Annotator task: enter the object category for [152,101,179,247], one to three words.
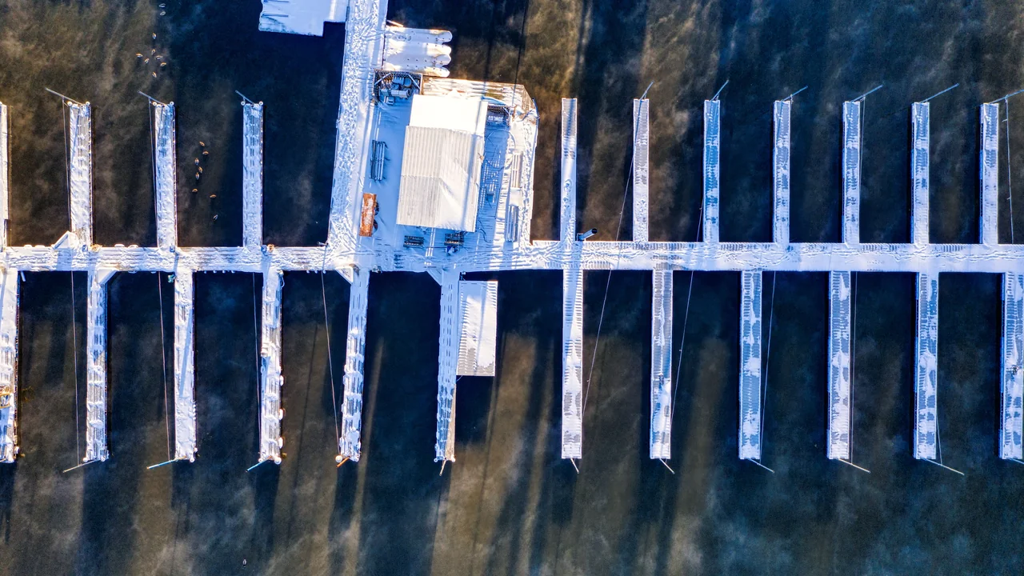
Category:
pier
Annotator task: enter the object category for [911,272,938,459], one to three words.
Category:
pier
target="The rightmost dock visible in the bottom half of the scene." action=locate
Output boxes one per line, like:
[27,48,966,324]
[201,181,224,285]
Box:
[996,273,1024,459]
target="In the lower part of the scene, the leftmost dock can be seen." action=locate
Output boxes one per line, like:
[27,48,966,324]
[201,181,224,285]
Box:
[0,271,22,463]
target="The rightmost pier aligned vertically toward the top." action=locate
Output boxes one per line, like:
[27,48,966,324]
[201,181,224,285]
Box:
[976,103,999,244]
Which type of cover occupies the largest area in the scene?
water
